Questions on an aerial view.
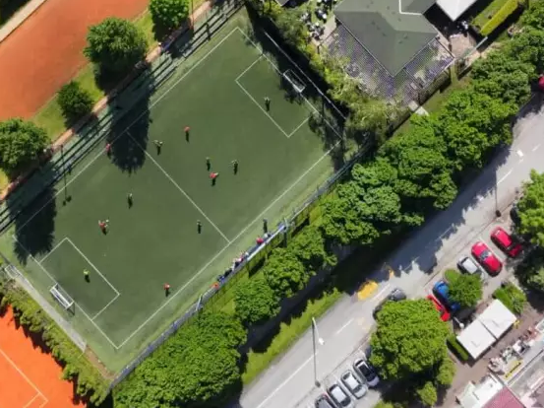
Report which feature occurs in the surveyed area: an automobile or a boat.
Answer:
automobile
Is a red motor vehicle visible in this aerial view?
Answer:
Yes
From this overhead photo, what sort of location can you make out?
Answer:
sports ground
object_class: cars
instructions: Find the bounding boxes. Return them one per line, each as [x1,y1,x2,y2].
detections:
[339,368,367,398]
[371,287,404,317]
[324,380,356,408]
[453,254,481,273]
[350,354,382,388]
[469,241,500,273]
[312,392,338,408]
[490,226,520,256]
[419,292,451,323]
[427,280,460,313]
